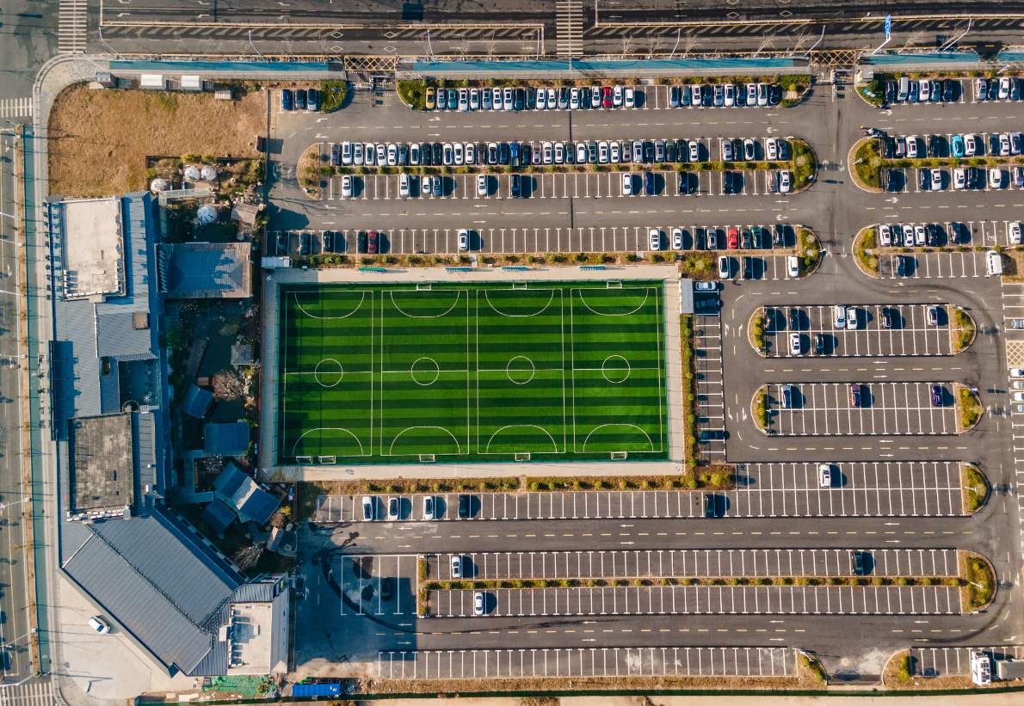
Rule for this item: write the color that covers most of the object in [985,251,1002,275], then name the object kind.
white vehicle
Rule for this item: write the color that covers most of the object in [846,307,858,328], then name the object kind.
white vehicle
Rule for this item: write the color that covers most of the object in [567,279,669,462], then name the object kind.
green soccer field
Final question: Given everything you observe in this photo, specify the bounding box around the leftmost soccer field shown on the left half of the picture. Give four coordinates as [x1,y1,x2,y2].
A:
[277,282,377,465]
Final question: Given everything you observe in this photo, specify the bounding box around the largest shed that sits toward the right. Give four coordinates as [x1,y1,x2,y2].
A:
[678,279,693,314]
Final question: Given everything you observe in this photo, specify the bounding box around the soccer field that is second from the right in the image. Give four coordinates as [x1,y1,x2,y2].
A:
[472,280,570,463]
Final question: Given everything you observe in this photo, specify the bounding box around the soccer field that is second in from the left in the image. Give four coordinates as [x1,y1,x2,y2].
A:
[376,281,473,464]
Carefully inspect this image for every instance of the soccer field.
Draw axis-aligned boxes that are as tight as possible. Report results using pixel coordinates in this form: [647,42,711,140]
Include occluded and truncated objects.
[376,281,473,464]
[567,279,669,462]
[277,282,377,465]
[472,280,570,463]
